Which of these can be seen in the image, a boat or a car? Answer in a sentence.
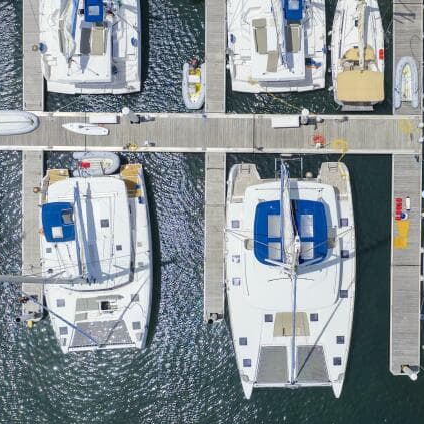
I can see a boat in this picture.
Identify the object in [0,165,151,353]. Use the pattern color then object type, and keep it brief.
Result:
white boat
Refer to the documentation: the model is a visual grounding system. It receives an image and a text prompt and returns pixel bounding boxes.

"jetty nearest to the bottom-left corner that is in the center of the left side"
[22,151,44,321]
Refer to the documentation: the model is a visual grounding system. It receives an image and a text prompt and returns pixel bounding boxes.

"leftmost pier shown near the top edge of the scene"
[23,0,44,112]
